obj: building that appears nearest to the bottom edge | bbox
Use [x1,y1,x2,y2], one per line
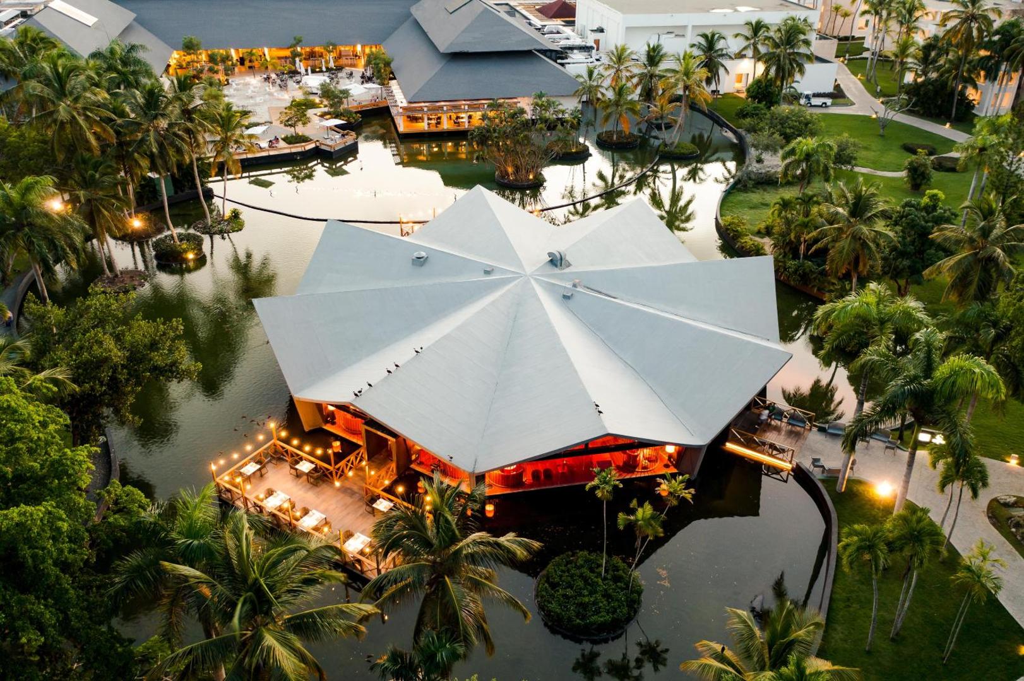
[254,184,789,501]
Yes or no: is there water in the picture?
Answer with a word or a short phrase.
Yes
